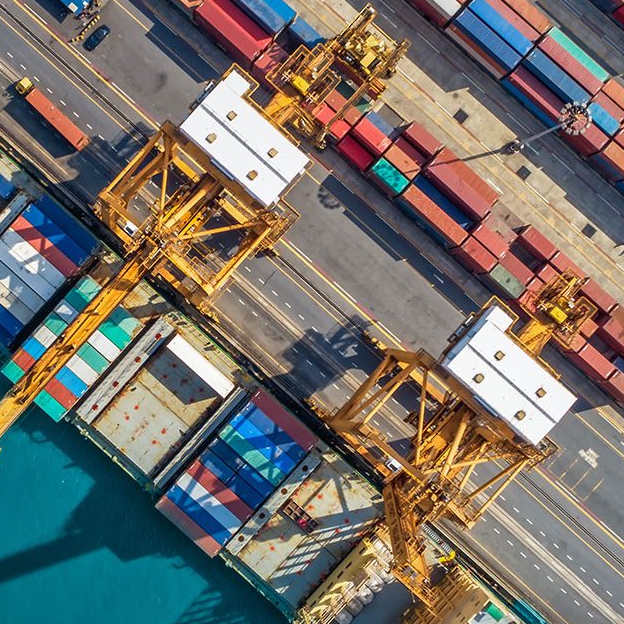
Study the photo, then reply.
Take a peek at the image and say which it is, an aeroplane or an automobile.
automobile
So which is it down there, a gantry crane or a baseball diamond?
gantry crane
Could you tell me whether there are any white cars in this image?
No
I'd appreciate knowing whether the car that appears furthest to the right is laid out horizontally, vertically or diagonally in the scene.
diagonally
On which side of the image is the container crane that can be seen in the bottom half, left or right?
right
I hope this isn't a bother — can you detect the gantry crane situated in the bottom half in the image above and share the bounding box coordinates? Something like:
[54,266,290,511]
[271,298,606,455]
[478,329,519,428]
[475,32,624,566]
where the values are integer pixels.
[294,266,604,618]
